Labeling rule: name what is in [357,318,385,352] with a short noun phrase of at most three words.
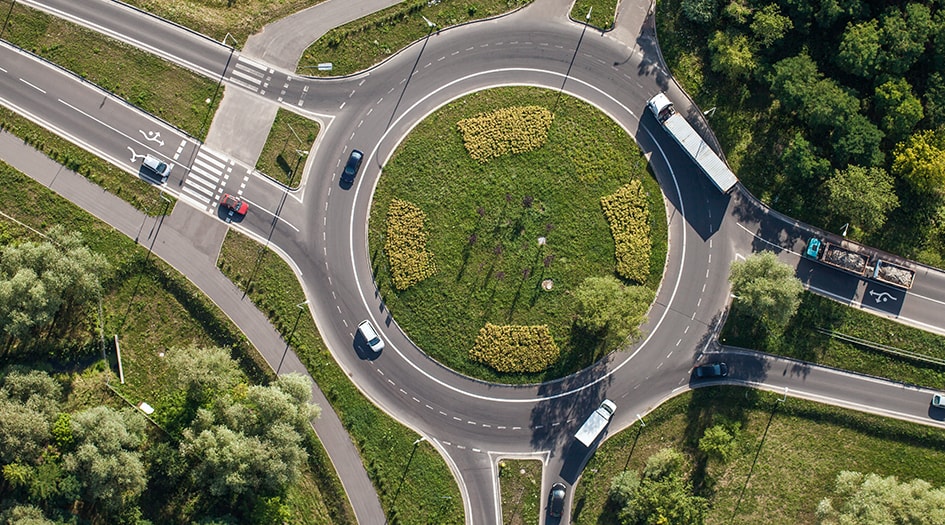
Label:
car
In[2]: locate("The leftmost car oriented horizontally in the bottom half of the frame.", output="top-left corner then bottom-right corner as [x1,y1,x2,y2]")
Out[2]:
[694,362,728,377]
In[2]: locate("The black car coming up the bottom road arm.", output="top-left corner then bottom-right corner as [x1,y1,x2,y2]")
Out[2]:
[550,483,567,517]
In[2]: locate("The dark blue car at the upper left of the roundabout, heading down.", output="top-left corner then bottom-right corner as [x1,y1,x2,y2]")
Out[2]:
[342,149,365,185]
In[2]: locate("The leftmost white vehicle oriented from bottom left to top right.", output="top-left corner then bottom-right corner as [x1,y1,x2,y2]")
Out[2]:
[575,400,616,446]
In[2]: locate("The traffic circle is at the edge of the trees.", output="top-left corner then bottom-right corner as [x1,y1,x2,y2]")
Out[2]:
[231,10,738,464]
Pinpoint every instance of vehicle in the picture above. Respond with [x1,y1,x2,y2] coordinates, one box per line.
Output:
[802,234,916,289]
[550,483,567,517]
[932,394,945,410]
[645,94,737,194]
[342,149,365,185]
[694,362,728,377]
[357,318,385,352]
[141,153,173,178]
[575,400,616,446]
[220,194,248,214]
